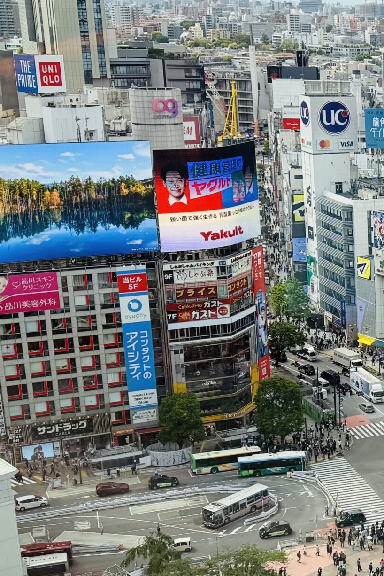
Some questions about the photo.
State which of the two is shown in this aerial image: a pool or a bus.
bus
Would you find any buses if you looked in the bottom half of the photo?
Yes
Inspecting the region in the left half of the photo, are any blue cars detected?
No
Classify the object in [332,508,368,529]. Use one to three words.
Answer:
car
